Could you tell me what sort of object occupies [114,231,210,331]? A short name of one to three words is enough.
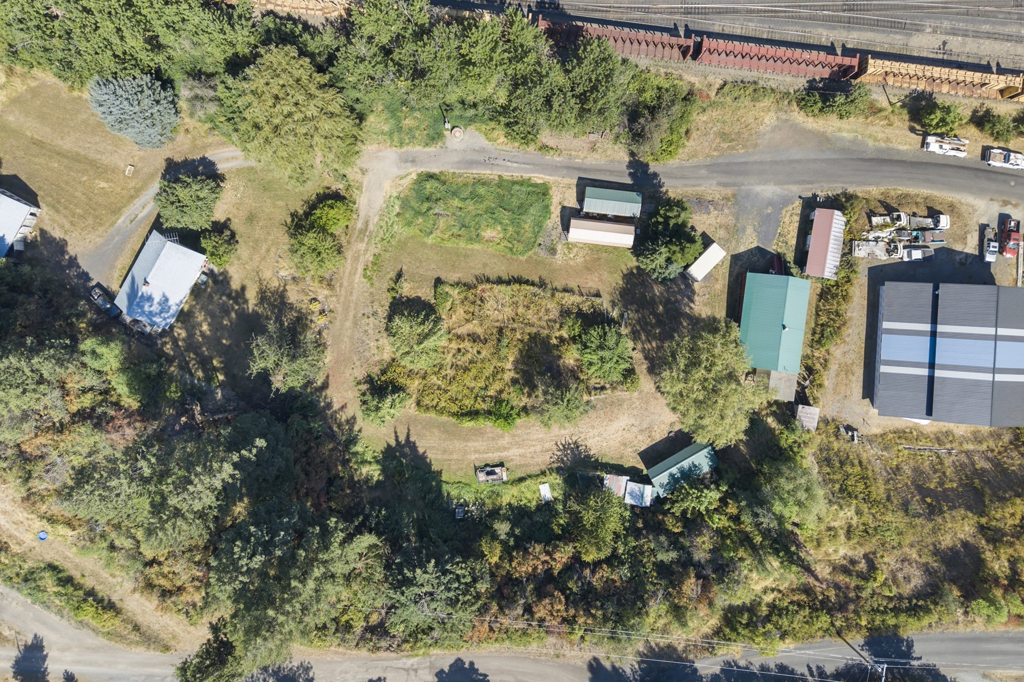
house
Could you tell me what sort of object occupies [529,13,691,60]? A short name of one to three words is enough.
rail car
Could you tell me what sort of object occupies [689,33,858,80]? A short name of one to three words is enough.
rail car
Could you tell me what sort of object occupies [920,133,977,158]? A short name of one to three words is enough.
truck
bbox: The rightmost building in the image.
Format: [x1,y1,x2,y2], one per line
[869,284,1024,427]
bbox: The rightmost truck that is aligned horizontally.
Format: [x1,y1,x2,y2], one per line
[984,148,1024,172]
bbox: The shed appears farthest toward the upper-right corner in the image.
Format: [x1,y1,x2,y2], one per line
[801,209,847,280]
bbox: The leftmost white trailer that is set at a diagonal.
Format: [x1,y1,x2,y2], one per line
[683,243,725,282]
